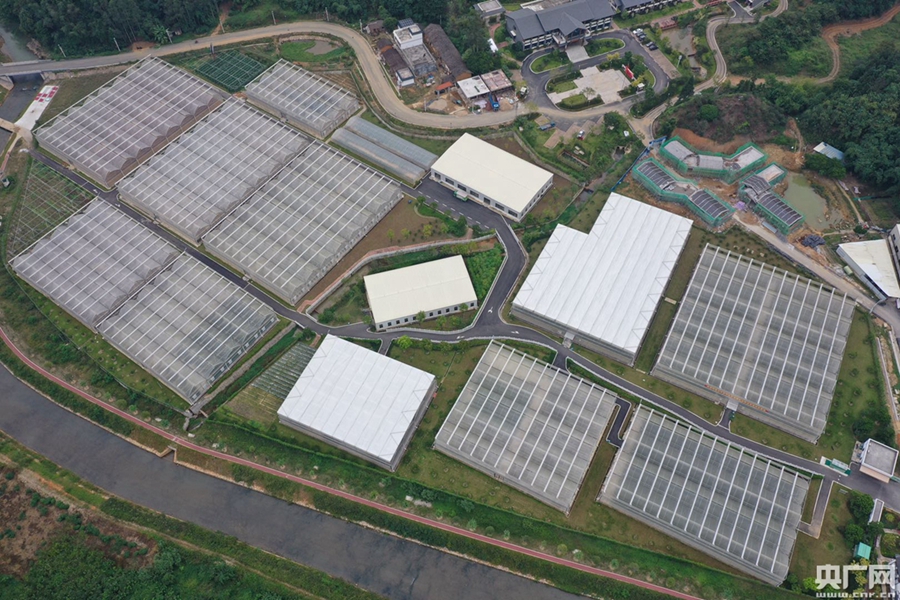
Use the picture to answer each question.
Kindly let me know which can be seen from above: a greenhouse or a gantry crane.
greenhouse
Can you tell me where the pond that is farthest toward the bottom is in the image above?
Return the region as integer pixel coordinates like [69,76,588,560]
[775,173,829,228]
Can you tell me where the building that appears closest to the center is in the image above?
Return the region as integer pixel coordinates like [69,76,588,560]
[364,255,477,329]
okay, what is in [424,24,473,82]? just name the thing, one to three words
barn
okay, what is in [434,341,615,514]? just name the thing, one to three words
greenhouse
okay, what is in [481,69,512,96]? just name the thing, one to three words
house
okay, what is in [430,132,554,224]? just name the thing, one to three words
building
